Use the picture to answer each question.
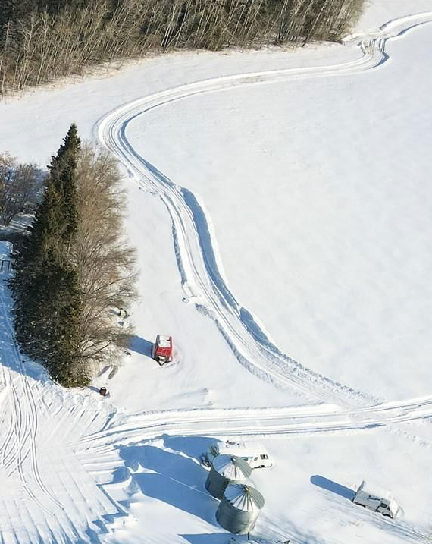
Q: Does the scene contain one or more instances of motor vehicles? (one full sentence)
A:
Yes, the picture does show a motor vehicle.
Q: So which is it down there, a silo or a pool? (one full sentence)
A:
This aerial view contains a silo.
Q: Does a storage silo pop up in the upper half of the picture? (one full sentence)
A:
No, looking in the upper half of the picture, there is no storage silo.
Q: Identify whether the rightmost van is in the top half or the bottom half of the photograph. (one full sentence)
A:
The rightmost van sits in the bottom half of the picture.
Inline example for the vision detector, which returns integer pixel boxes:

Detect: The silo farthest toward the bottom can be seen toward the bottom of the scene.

[215,482,266,535]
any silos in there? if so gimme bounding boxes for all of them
[215,482,266,535]
[204,454,253,501]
